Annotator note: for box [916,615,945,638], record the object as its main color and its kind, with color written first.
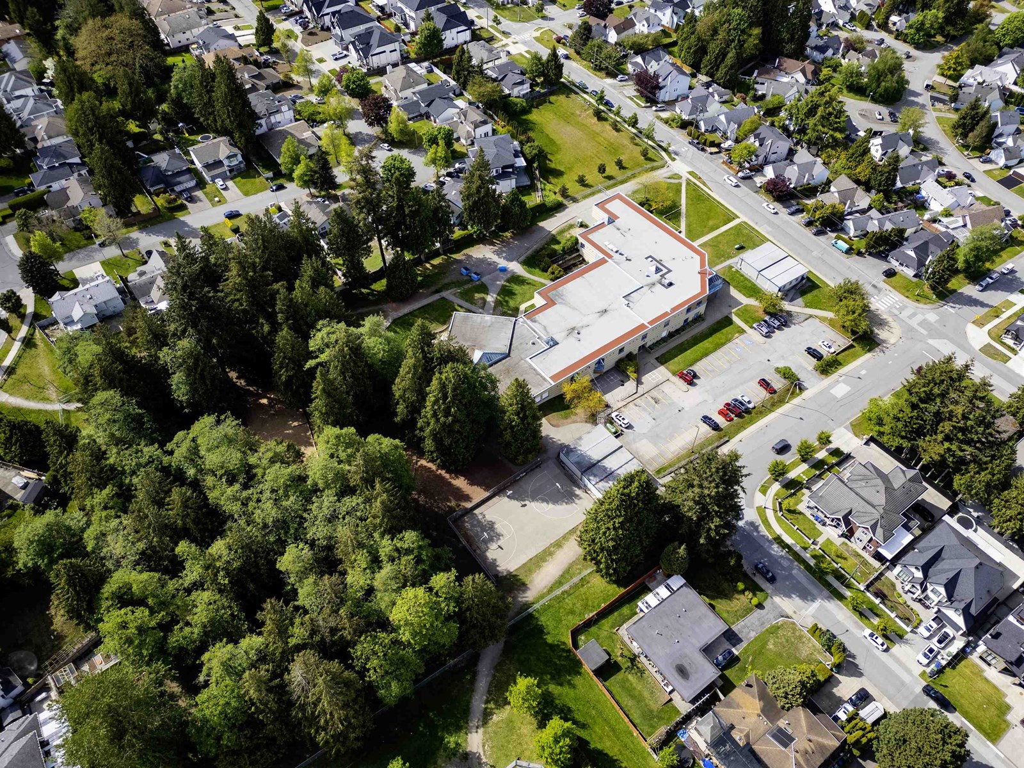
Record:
white truck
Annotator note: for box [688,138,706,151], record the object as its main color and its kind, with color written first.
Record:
gray vehicle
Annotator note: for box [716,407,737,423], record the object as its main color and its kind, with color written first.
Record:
red car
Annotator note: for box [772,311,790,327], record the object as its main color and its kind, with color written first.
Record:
black car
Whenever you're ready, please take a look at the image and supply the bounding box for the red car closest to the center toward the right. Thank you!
[676,370,696,386]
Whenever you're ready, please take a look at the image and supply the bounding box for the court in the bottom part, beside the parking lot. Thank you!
[449,457,597,579]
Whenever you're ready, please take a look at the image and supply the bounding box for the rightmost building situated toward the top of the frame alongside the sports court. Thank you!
[516,192,723,404]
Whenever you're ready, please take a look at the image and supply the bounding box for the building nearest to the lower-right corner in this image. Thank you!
[970,597,1024,683]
